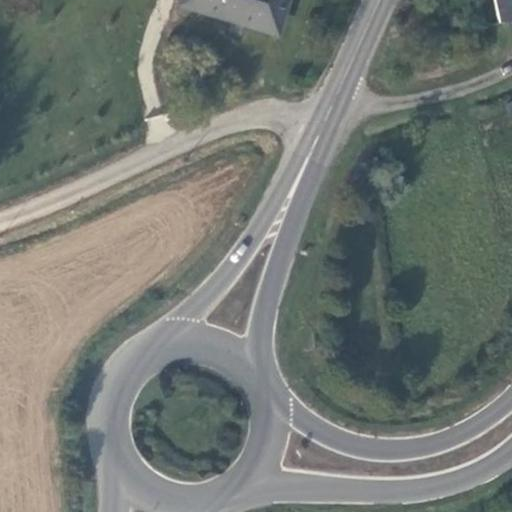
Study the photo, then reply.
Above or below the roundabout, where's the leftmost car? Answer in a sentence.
The position of the leftmost car is above the roundabout.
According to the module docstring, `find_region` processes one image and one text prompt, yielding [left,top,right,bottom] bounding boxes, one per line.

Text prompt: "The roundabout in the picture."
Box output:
[87,312,291,512]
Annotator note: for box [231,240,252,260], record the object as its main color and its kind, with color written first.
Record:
white car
